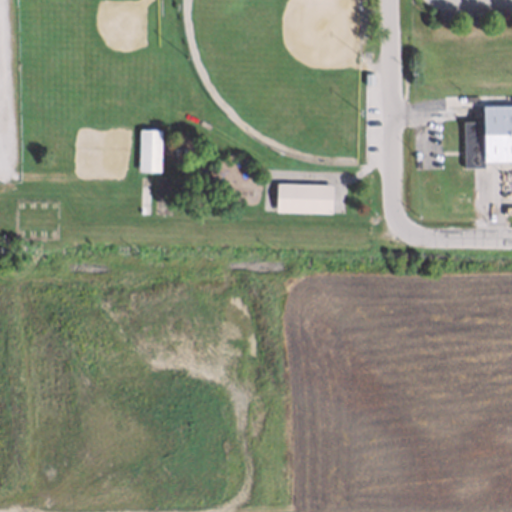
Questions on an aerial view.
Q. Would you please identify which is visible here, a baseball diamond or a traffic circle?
baseball diamond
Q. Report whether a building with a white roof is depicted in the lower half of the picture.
No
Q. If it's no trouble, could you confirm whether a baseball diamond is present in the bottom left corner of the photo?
No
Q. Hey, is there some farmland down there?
Yes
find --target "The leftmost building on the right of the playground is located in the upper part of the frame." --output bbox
[278,183,334,214]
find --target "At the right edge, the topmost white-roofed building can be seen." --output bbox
[464,106,512,168]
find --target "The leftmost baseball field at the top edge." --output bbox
[24,0,190,122]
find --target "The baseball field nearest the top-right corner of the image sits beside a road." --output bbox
[194,0,366,156]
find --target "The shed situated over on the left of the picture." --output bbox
[140,129,163,172]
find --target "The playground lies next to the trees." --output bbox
[212,164,262,206]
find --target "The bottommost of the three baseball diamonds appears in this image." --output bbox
[24,122,140,200]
